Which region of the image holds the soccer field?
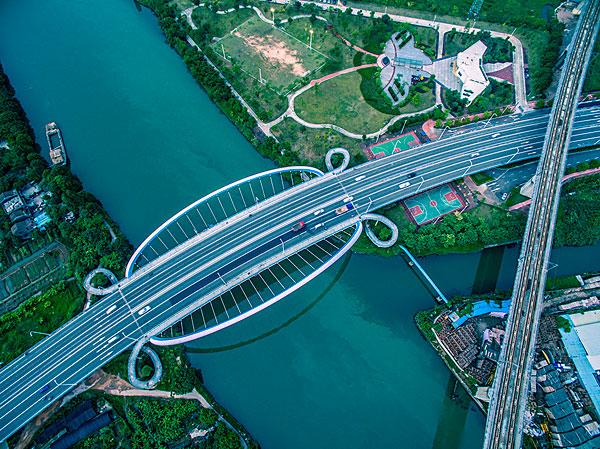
top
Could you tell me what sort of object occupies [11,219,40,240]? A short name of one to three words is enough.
house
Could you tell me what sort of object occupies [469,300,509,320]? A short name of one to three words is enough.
shed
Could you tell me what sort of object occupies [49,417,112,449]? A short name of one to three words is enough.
shed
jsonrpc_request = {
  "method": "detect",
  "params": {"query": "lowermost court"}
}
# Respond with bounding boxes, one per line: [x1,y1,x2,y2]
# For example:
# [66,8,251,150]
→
[398,182,469,226]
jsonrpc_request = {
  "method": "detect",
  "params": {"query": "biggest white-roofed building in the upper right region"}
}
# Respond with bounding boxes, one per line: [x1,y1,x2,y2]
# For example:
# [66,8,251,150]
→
[455,39,513,107]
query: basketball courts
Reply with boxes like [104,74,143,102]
[398,182,469,226]
[363,128,423,161]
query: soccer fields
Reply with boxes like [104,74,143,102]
[212,15,329,94]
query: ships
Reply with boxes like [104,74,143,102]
[44,124,65,170]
